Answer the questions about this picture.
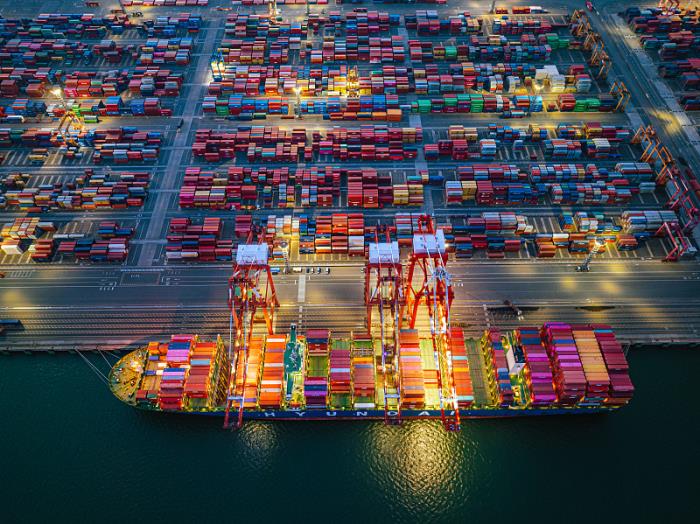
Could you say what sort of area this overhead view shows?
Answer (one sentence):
The picture captures a port.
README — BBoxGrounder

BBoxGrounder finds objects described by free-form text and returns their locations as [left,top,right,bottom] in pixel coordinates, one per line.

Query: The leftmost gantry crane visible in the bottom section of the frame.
[221,221,286,430]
